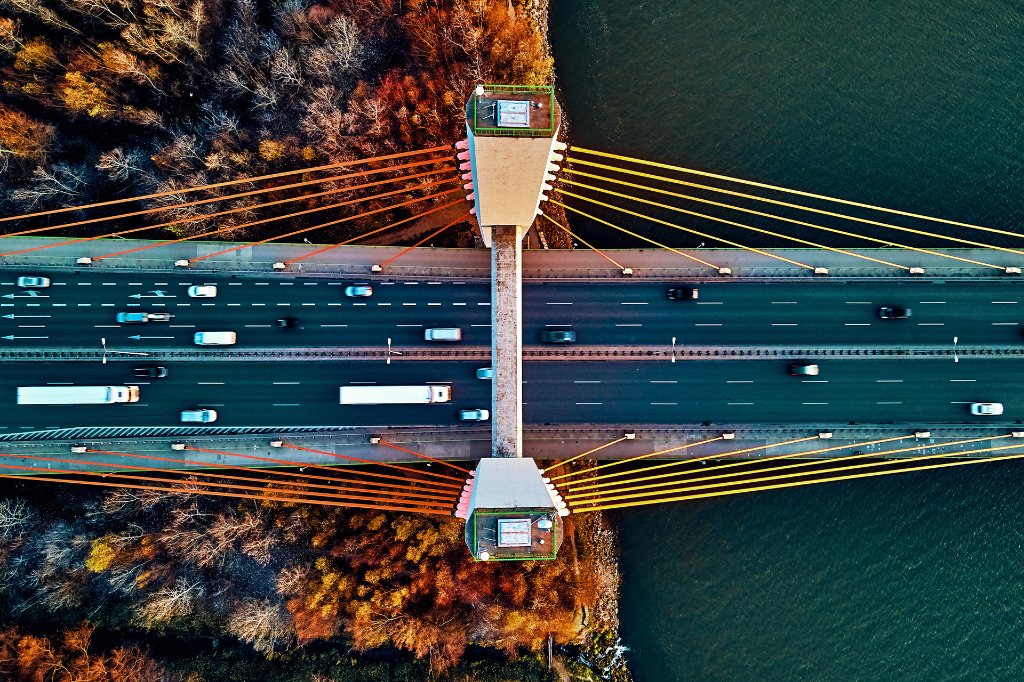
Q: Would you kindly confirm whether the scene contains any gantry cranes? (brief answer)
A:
No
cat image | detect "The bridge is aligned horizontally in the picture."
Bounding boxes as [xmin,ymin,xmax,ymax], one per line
[0,85,1024,561]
